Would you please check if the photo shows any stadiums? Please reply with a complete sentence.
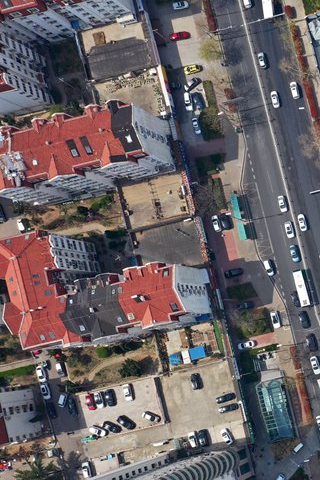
No, there's no stadium here.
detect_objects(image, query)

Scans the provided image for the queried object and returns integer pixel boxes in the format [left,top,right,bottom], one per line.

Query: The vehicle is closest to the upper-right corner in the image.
[261,0,277,21]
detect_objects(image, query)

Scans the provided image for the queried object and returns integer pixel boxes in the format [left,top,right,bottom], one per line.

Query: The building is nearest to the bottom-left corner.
[0,387,55,445]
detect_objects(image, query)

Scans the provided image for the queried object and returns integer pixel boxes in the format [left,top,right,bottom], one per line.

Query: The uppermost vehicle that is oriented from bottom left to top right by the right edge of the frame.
[289,440,306,456]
